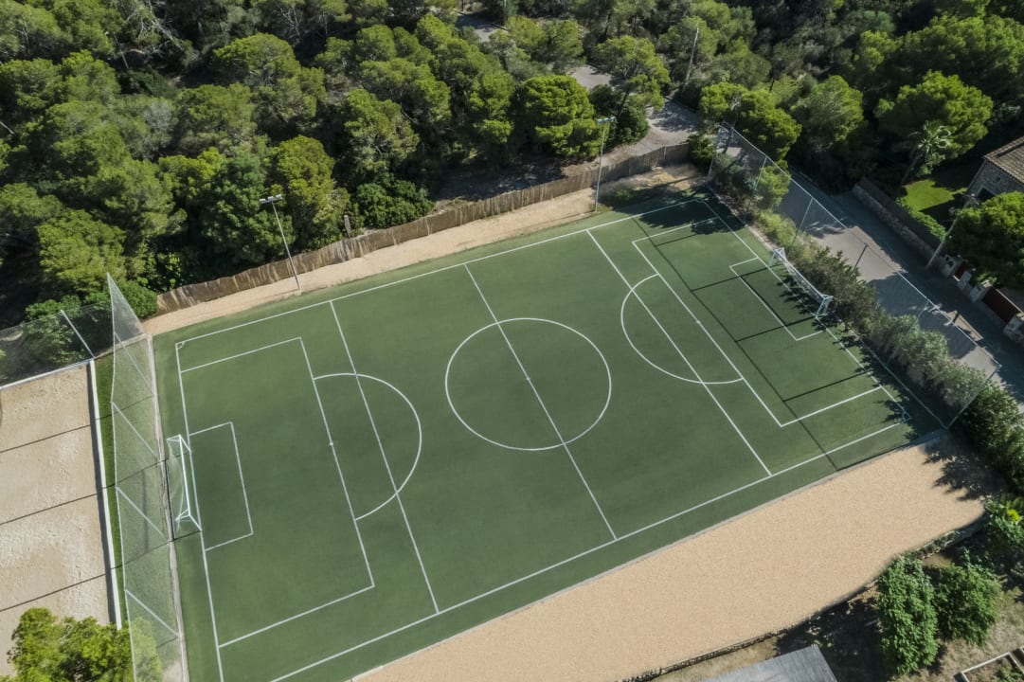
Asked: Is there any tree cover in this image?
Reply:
Yes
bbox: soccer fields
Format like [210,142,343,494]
[152,179,947,682]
